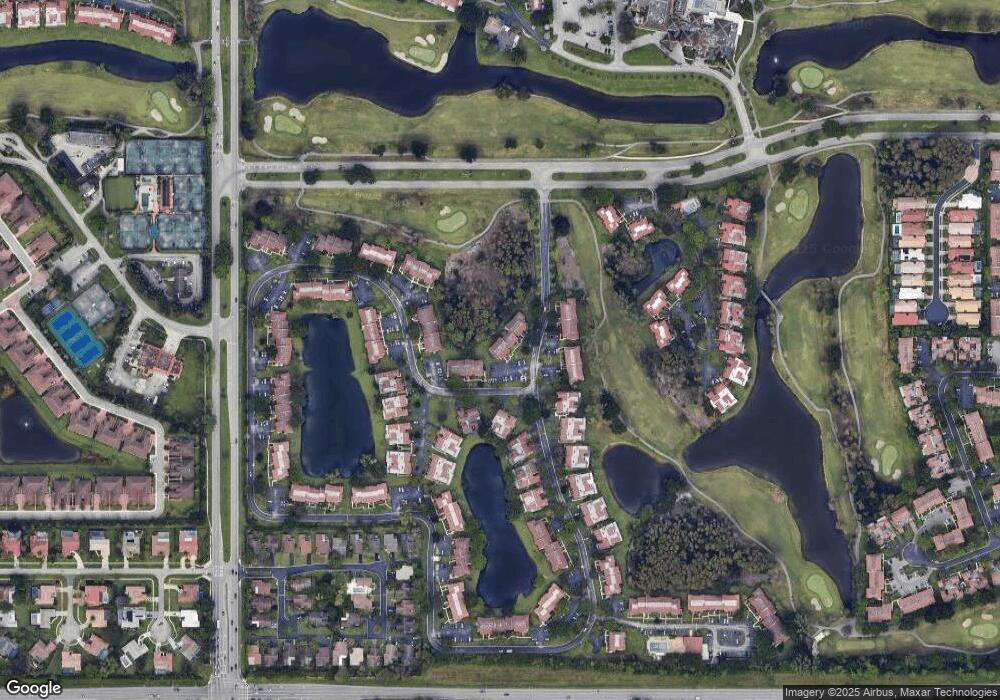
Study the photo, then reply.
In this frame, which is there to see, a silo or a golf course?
golf course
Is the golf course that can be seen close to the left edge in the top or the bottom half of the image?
top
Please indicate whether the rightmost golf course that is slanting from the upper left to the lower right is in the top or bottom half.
bottom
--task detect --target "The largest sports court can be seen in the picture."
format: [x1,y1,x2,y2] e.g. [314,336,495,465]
[48,308,104,367]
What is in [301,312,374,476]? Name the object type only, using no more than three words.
pond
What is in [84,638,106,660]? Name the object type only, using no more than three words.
house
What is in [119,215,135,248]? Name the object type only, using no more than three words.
tennis court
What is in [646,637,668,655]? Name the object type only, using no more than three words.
swimming pool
